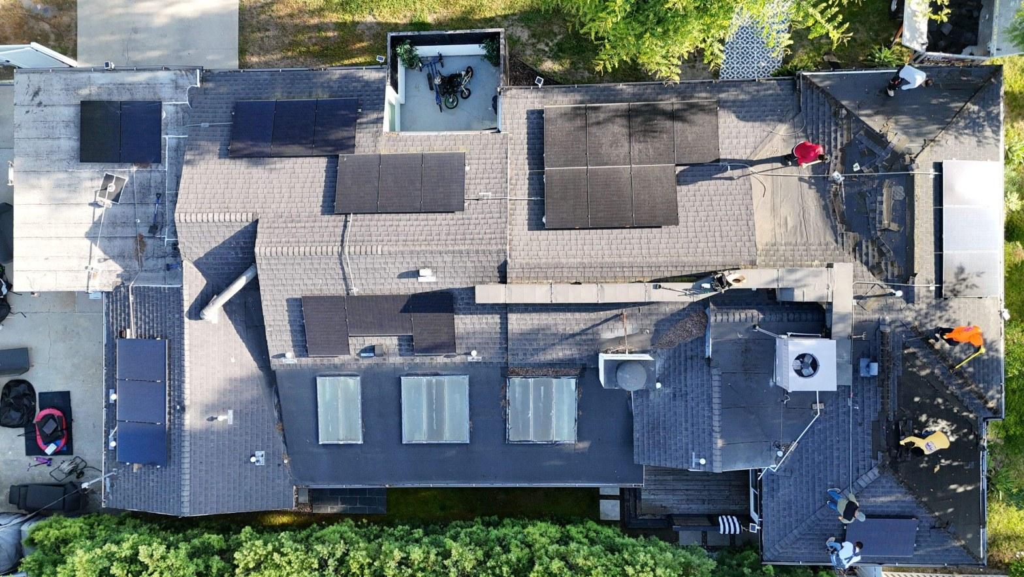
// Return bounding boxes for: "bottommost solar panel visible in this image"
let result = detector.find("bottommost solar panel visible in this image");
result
[845,517,918,556]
